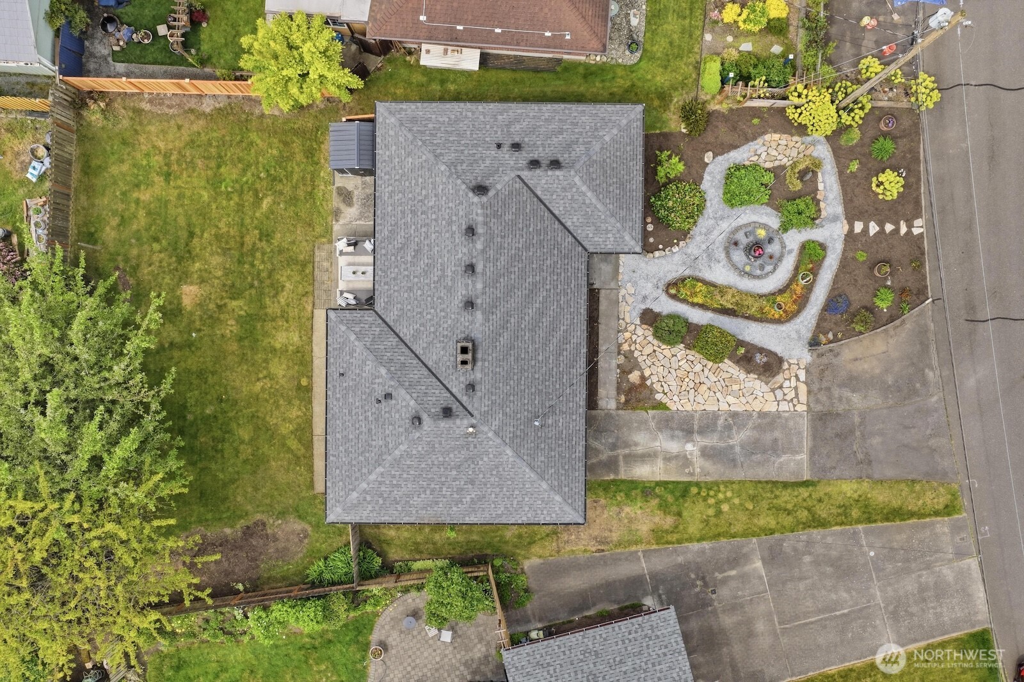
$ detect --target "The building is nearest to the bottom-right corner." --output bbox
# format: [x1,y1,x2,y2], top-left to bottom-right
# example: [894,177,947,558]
[501,602,697,682]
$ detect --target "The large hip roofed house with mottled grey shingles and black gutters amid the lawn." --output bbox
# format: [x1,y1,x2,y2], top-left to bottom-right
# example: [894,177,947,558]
[325,101,645,526]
